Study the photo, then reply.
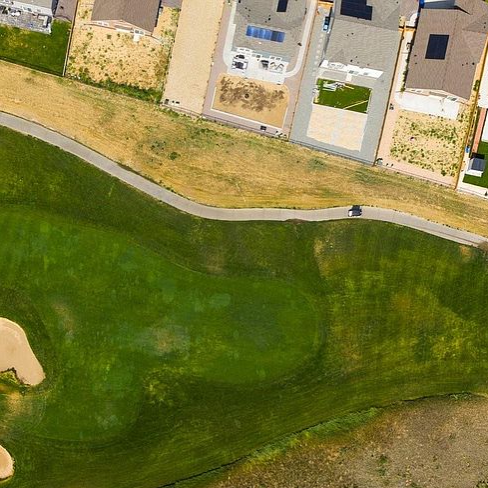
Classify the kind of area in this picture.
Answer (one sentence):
The picture captures a golf course.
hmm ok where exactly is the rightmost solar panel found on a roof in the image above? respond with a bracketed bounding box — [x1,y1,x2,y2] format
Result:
[425,34,450,59]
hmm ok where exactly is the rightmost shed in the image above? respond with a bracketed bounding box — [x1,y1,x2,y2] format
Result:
[466,155,488,174]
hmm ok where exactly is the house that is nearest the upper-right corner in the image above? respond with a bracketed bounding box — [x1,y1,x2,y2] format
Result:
[400,0,488,105]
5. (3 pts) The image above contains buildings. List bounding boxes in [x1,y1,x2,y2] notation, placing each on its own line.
[90,0,159,39]
[320,0,397,78]
[0,0,54,16]
[400,0,488,105]
[230,0,304,67]
[466,155,488,174]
